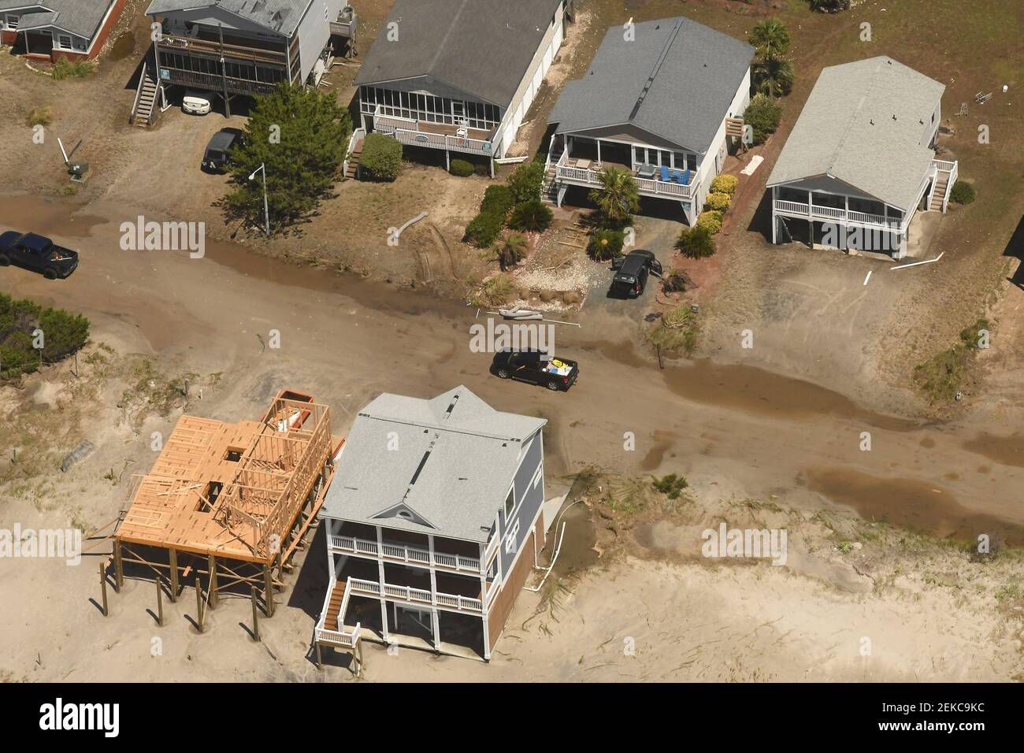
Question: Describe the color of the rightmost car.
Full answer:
The rightmost car is black.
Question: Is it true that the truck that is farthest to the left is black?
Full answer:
Yes, black is the color of the truck that is farthest to the left.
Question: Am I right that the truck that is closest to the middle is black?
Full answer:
Yes, the truck that is closest to the middle is black.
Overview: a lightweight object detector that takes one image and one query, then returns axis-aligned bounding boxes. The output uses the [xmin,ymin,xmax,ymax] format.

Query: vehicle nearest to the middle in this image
[485,344,582,390]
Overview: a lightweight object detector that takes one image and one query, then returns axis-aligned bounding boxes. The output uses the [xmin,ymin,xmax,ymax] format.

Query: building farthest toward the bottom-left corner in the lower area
[111,397,335,618]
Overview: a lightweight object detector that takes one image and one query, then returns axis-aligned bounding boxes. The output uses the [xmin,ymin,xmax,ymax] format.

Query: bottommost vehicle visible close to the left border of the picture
[0,231,80,276]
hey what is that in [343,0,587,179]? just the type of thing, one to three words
house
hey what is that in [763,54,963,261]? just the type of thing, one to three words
house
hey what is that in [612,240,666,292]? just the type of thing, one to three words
car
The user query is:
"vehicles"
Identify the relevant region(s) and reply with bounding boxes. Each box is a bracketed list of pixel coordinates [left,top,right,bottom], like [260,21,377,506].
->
[485,344,582,390]
[612,240,666,292]
[180,89,218,112]
[0,231,80,276]
[204,123,246,166]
